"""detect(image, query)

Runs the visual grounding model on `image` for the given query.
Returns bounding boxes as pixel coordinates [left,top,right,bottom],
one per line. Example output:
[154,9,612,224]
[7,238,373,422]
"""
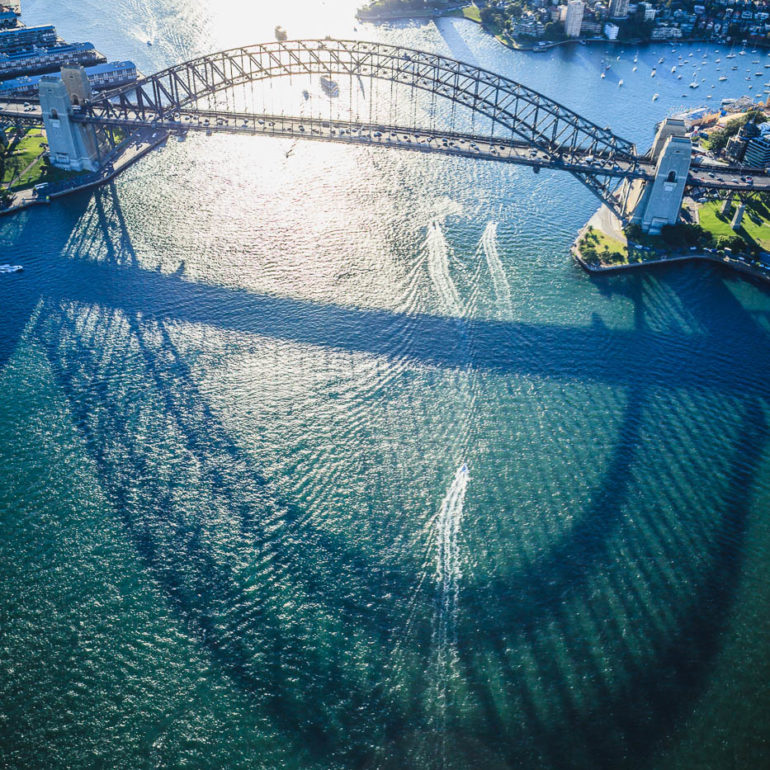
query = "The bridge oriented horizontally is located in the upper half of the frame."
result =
[0,37,770,238]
